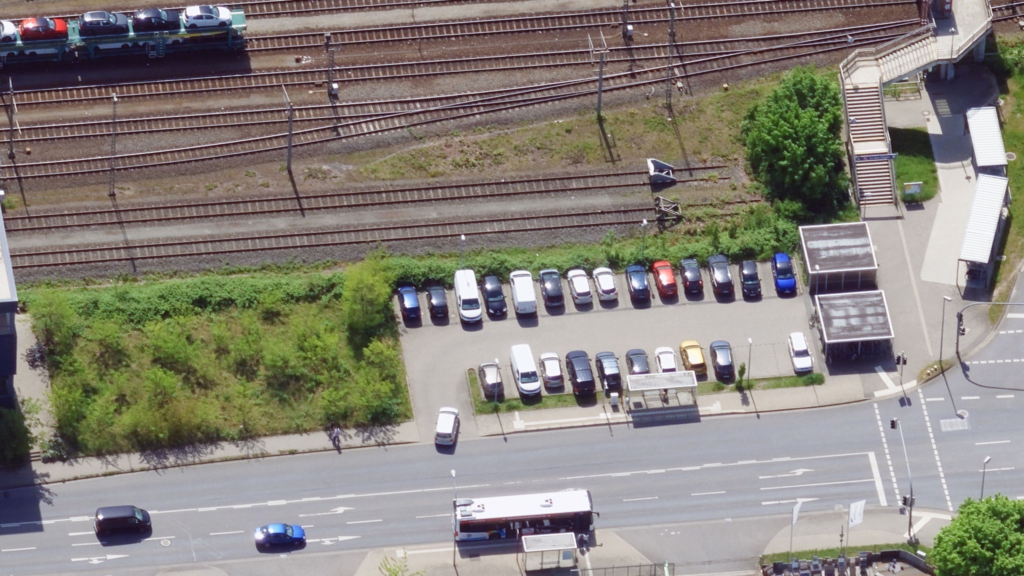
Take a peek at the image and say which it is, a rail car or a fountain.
rail car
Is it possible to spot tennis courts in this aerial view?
No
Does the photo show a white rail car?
No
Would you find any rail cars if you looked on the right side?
No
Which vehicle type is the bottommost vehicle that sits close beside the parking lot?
bus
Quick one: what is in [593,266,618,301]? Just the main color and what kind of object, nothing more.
white car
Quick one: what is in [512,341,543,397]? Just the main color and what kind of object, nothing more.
white vehicle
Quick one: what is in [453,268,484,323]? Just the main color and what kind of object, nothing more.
white vehicle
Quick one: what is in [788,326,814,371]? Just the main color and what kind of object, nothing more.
white car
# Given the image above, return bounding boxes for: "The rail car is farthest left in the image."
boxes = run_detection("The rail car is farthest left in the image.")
[0,16,81,69]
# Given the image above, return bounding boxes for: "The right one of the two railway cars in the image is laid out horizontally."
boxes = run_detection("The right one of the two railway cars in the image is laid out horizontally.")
[82,3,255,63]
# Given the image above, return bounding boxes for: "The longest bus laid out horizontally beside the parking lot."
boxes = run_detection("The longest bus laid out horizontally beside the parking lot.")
[452,489,604,541]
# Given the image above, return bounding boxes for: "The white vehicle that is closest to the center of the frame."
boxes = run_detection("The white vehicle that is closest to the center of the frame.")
[509,274,537,316]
